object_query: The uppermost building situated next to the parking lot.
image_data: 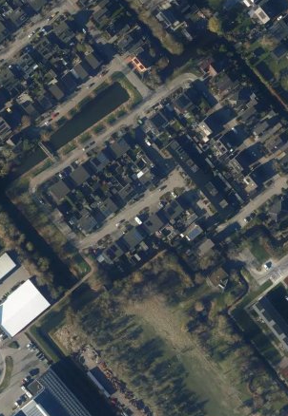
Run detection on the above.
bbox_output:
[0,281,51,338]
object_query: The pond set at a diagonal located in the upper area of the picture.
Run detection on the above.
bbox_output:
[6,82,130,179]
